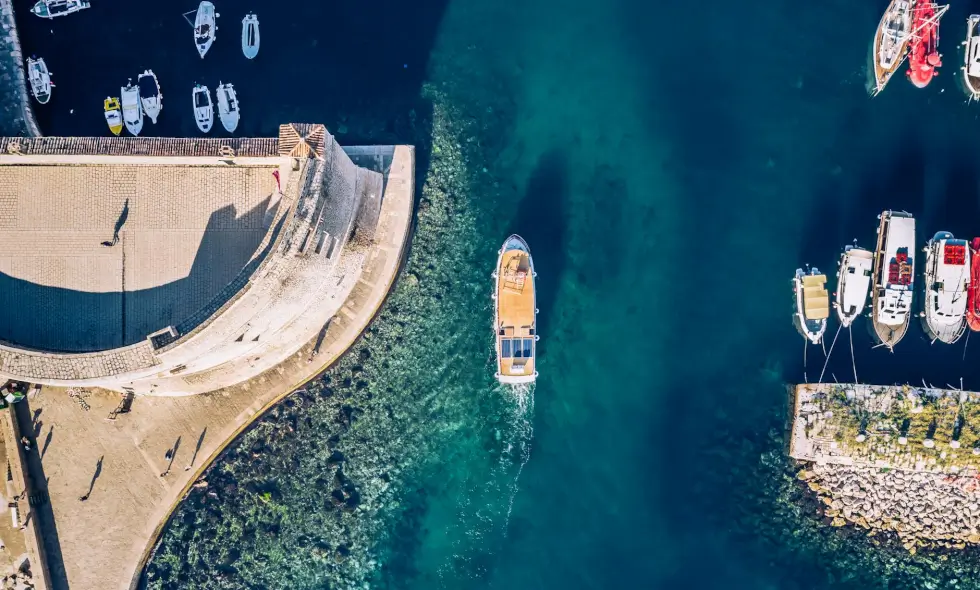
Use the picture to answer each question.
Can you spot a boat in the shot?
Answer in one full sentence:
Yes, looking at the shot, I can spot a boat.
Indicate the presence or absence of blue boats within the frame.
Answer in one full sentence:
Yes, there's a blue boat here.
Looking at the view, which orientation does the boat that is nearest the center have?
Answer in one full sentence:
I'd say the boat that is nearest the center is aligned up and down in the picture.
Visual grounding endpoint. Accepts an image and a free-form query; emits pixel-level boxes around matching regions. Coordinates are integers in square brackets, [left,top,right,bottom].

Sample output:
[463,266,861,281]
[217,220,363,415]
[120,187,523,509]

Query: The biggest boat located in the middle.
[492,233,540,381]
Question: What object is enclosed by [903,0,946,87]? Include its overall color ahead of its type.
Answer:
red vessel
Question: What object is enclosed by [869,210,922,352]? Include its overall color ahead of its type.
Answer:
white boat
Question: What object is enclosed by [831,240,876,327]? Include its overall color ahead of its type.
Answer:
white boat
